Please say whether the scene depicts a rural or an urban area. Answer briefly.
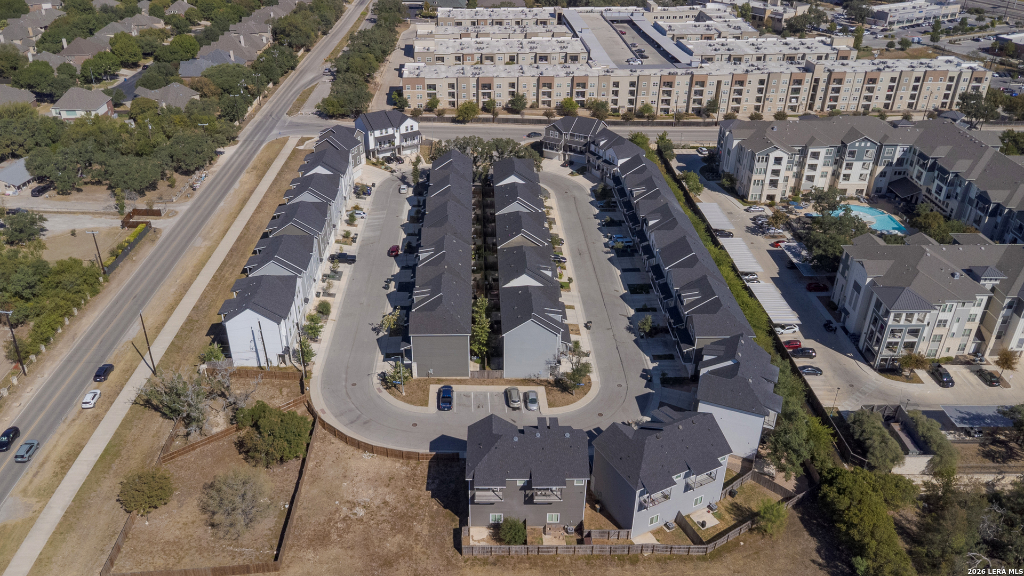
urban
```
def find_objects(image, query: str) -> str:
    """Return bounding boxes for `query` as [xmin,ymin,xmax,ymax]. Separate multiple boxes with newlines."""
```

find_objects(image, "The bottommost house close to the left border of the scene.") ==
[0,156,34,192]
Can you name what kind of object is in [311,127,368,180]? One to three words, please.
house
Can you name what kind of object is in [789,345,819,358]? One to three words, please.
vehicle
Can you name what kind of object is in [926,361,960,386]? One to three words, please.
truck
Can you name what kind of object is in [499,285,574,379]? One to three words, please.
house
